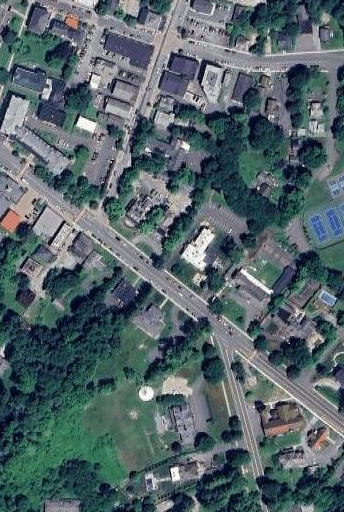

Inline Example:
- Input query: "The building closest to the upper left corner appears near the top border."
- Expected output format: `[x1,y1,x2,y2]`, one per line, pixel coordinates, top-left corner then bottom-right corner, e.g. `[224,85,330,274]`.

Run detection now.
[26,5,50,32]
